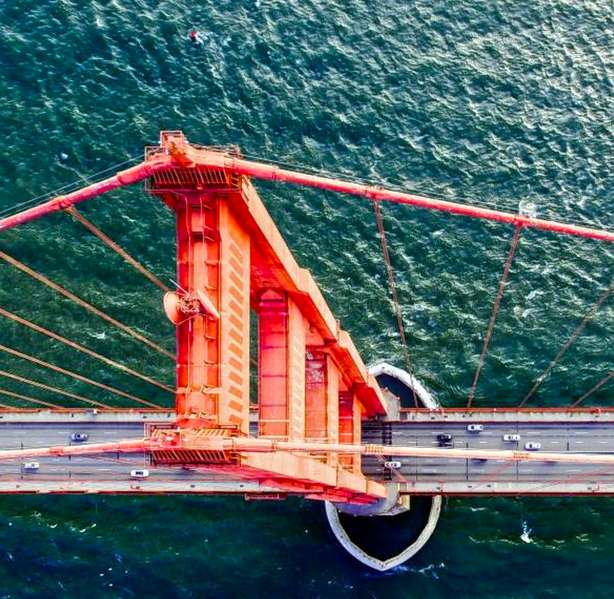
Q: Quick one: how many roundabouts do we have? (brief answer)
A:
0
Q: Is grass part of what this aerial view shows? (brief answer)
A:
No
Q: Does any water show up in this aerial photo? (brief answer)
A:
Yes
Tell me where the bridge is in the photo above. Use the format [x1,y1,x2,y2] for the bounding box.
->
[0,127,614,517]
